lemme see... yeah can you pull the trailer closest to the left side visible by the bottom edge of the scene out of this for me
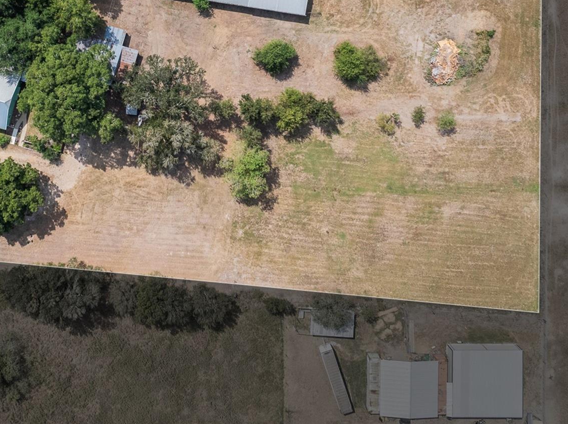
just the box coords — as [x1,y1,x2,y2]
[317,339,353,413]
